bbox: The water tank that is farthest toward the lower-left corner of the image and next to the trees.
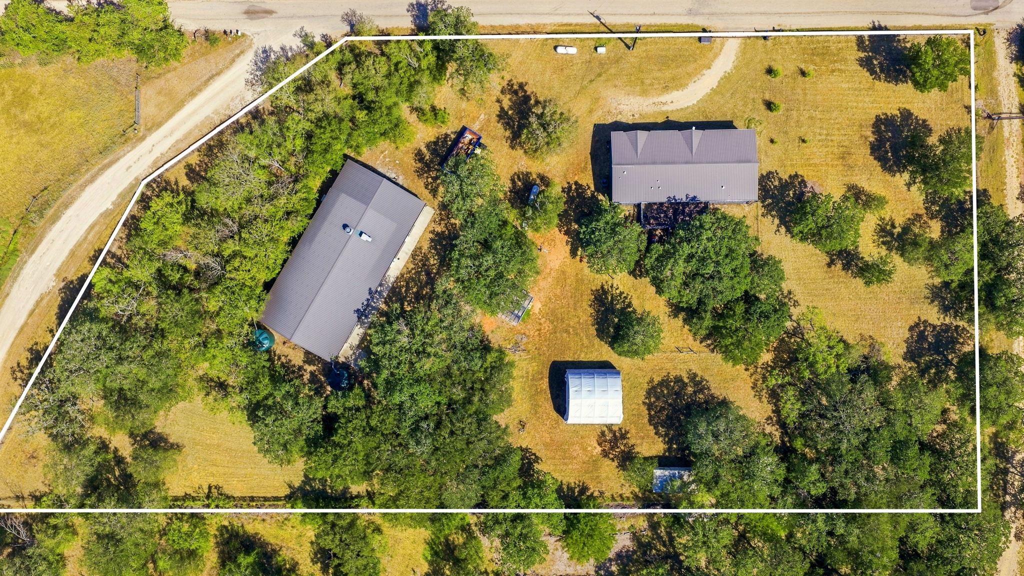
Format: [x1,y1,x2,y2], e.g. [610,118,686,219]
[253,328,280,352]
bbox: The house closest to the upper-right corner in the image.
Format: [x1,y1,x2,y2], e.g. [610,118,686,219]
[611,126,760,204]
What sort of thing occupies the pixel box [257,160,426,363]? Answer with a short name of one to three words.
building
